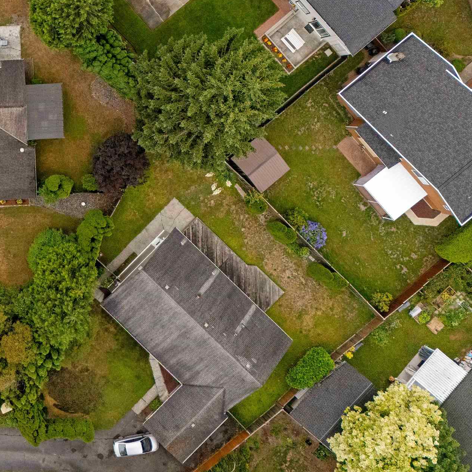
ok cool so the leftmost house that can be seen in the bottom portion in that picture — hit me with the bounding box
[101,228,293,464]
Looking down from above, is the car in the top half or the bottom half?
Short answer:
bottom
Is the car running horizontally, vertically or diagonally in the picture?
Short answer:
horizontally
